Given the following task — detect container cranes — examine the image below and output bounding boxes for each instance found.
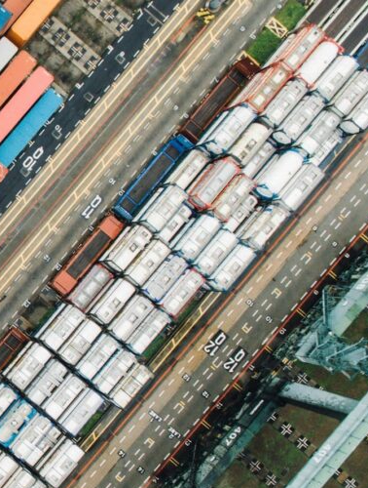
[169,351,368,488]
[277,252,368,386]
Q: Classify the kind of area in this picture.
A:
industrial area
